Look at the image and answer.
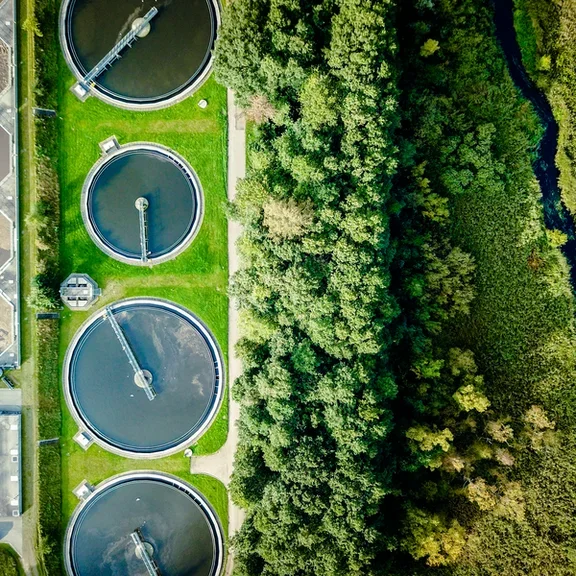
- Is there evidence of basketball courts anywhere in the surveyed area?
No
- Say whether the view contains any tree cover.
Yes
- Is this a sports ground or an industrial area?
industrial area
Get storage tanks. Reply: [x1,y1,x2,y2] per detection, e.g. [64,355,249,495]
[82,142,205,266]
[60,0,223,110]
[64,469,225,576]
[62,296,225,458]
